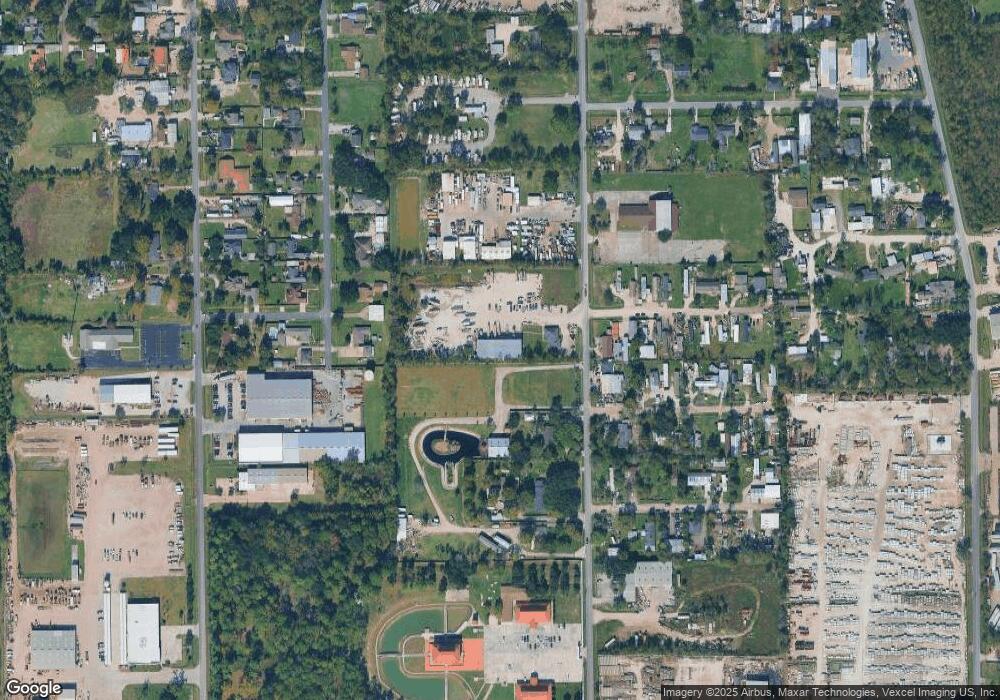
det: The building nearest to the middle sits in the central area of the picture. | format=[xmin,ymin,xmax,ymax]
[477,339,522,358]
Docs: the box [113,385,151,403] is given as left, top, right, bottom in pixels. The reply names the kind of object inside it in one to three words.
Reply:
building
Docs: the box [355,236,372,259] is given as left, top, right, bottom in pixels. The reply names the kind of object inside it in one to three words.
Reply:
house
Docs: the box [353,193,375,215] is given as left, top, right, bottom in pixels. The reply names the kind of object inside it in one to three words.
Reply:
house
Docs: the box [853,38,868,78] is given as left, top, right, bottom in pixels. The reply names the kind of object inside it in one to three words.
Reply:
building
